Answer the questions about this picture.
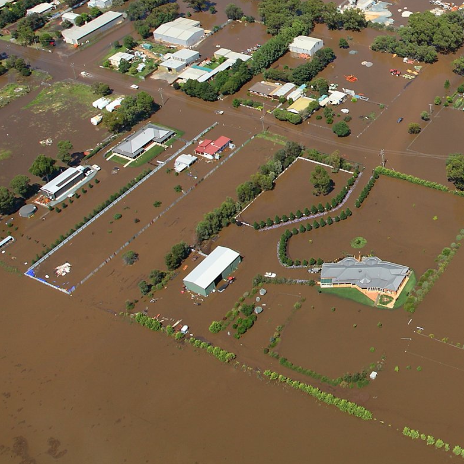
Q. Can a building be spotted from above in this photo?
Yes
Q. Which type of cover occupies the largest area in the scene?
water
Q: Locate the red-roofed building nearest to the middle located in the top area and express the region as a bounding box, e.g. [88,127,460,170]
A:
[194,134,231,159]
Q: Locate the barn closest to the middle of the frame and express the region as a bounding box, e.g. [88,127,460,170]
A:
[183,246,242,297]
